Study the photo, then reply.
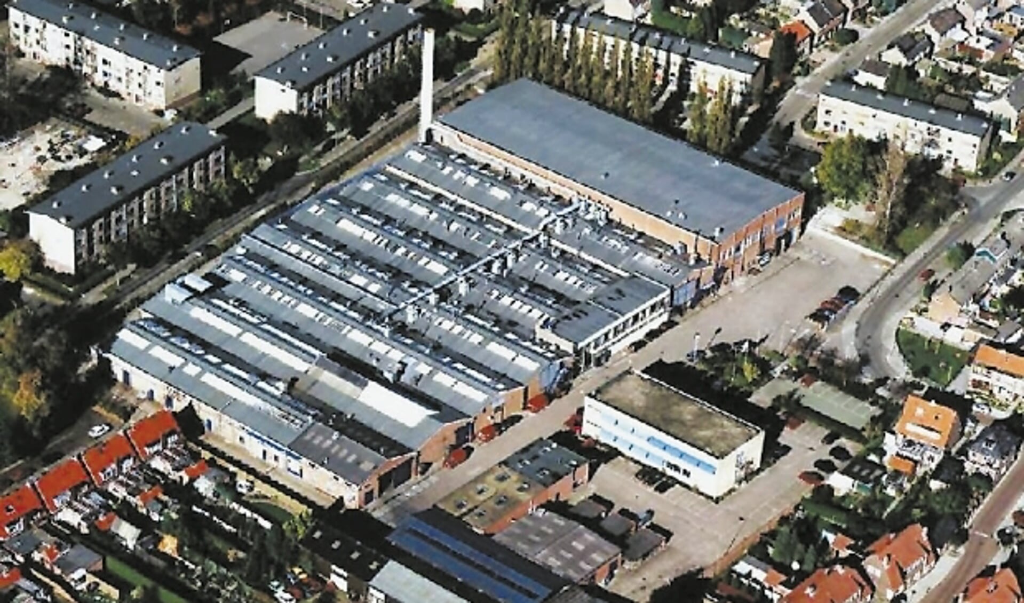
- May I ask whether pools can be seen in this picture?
No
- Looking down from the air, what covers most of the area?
buildings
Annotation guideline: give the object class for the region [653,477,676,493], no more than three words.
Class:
car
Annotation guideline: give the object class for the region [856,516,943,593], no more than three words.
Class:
house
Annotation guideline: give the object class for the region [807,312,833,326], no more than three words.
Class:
car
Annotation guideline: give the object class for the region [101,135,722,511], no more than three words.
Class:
building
